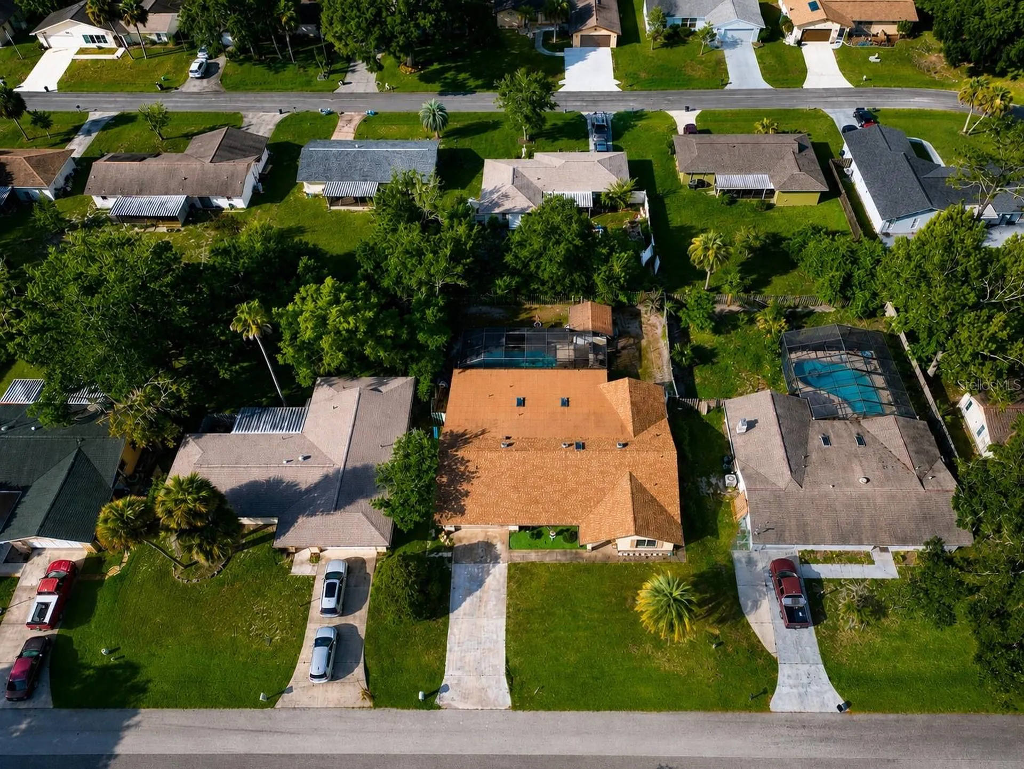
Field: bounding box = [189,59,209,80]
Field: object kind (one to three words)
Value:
car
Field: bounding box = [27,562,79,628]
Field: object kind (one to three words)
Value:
truck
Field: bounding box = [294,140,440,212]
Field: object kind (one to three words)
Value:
house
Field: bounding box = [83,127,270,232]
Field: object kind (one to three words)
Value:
house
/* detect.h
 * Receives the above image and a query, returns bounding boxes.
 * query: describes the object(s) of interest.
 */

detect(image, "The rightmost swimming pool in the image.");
[793,357,886,418]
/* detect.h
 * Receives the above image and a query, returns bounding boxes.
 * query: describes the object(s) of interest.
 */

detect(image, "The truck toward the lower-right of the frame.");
[769,560,810,629]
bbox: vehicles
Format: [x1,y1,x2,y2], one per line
[851,106,877,126]
[593,138,609,152]
[840,125,856,135]
[769,560,810,629]
[189,59,209,80]
[319,561,349,618]
[682,121,698,134]
[27,562,79,628]
[308,628,339,684]
[592,105,609,140]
